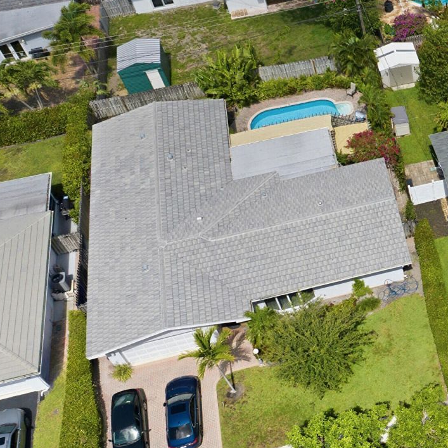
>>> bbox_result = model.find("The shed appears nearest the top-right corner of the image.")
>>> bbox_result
[378,40,417,88]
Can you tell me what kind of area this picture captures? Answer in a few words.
residential area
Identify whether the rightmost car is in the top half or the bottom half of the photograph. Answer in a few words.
bottom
